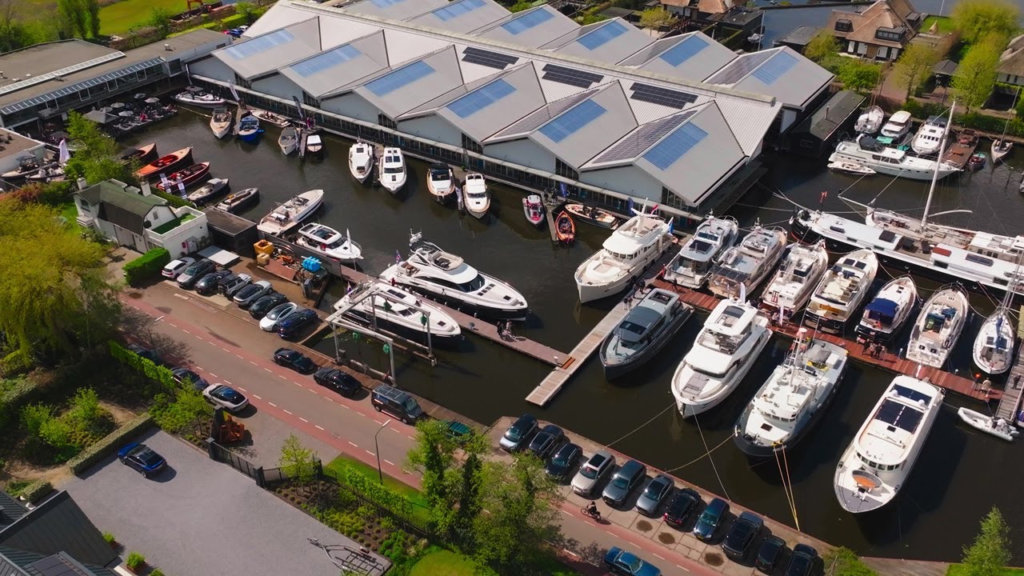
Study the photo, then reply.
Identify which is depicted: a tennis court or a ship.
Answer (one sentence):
It is a ship that can be seen here.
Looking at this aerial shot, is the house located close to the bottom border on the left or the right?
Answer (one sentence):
The house located close to the bottom border sits on the left side.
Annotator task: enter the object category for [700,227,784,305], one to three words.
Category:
boat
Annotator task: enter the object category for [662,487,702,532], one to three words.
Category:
car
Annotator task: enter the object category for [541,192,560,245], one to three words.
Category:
pier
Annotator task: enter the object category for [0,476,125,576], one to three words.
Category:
house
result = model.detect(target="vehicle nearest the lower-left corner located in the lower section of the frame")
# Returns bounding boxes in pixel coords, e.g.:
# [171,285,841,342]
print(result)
[119,444,167,481]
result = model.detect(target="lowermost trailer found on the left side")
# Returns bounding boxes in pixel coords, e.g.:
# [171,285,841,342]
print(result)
[310,526,394,576]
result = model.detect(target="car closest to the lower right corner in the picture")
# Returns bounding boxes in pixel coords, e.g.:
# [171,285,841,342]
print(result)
[780,537,821,576]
